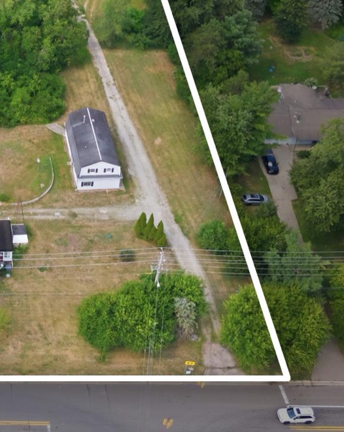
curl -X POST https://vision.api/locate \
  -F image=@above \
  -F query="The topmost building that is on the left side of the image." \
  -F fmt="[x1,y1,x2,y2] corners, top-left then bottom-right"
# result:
[64,105,129,190]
